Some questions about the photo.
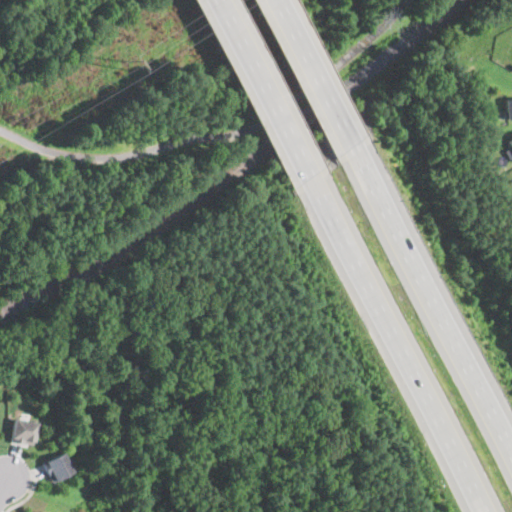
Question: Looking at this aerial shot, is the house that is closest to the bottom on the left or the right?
left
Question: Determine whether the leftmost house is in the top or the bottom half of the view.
bottom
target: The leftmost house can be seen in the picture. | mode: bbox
[12,412,40,448]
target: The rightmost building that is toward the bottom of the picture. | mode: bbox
[42,456,77,484]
